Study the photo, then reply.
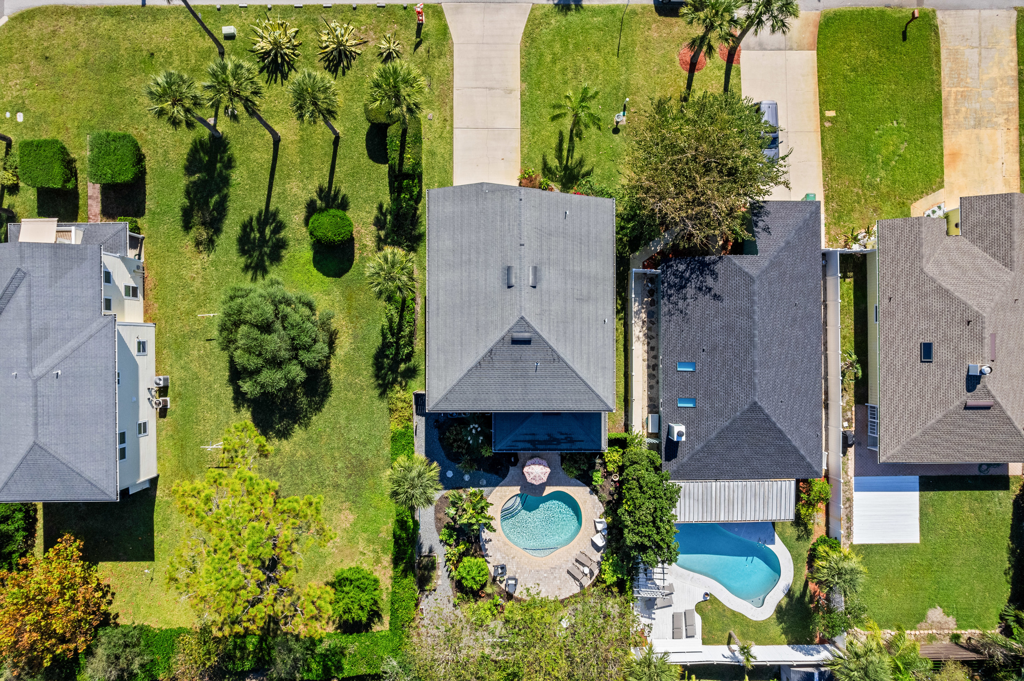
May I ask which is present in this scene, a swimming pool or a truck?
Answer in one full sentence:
There is a swimming pool in the scene.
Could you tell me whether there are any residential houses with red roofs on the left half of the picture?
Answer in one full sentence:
No, there is no residential house with a red roof on the left half of the picture.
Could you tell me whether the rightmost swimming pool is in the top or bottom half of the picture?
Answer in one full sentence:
You can find the rightmost swimming pool in the bottom half.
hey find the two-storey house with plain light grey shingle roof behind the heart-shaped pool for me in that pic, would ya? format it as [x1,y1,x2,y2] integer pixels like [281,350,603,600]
[425,183,616,454]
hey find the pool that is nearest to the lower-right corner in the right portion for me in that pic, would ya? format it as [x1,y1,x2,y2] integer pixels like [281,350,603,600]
[674,524,781,608]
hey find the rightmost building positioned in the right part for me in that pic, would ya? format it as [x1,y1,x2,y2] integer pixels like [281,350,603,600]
[867,193,1024,465]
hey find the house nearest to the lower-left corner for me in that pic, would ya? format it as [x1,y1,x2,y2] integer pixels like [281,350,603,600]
[0,220,157,503]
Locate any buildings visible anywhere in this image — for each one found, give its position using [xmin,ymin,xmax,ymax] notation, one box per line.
[425,183,616,454]
[659,200,831,480]
[867,193,1024,465]
[777,663,830,681]
[0,220,157,503]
